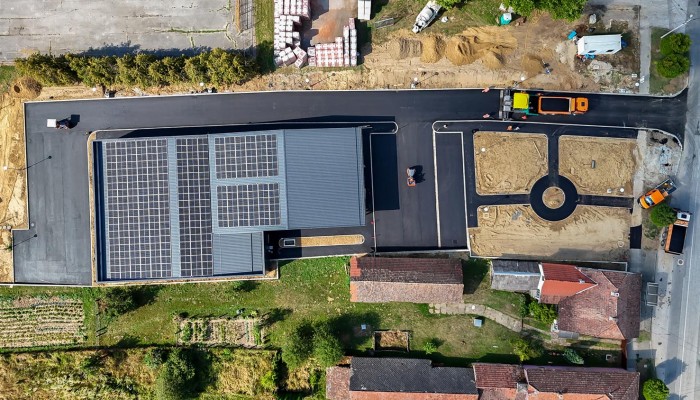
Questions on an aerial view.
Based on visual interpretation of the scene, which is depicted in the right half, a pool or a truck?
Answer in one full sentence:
Looking in the right half, you will find a truck.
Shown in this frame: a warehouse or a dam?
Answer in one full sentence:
Looking from above, you can make out a warehouse.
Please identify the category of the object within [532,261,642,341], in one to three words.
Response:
house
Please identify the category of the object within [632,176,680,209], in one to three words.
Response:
truck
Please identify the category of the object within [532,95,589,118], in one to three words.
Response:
truck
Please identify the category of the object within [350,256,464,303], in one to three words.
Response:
barn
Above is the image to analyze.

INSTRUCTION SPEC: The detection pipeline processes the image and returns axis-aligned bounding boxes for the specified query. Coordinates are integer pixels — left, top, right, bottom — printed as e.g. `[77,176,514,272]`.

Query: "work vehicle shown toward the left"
[45,118,72,131]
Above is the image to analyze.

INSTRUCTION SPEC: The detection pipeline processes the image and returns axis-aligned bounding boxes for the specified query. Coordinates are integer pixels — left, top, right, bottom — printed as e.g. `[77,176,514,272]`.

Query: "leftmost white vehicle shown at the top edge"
[409,0,441,34]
